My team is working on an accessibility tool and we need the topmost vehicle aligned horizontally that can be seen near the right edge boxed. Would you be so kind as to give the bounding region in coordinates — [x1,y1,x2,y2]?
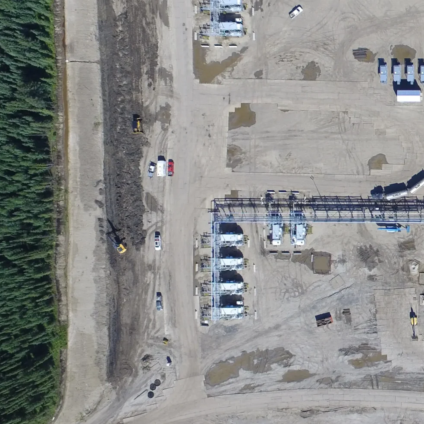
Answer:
[371,184,410,200]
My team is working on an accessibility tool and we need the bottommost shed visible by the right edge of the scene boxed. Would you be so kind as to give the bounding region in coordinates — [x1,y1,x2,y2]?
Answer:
[396,88,423,104]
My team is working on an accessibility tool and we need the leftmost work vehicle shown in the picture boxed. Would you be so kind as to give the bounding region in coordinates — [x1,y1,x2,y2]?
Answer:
[108,230,127,255]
